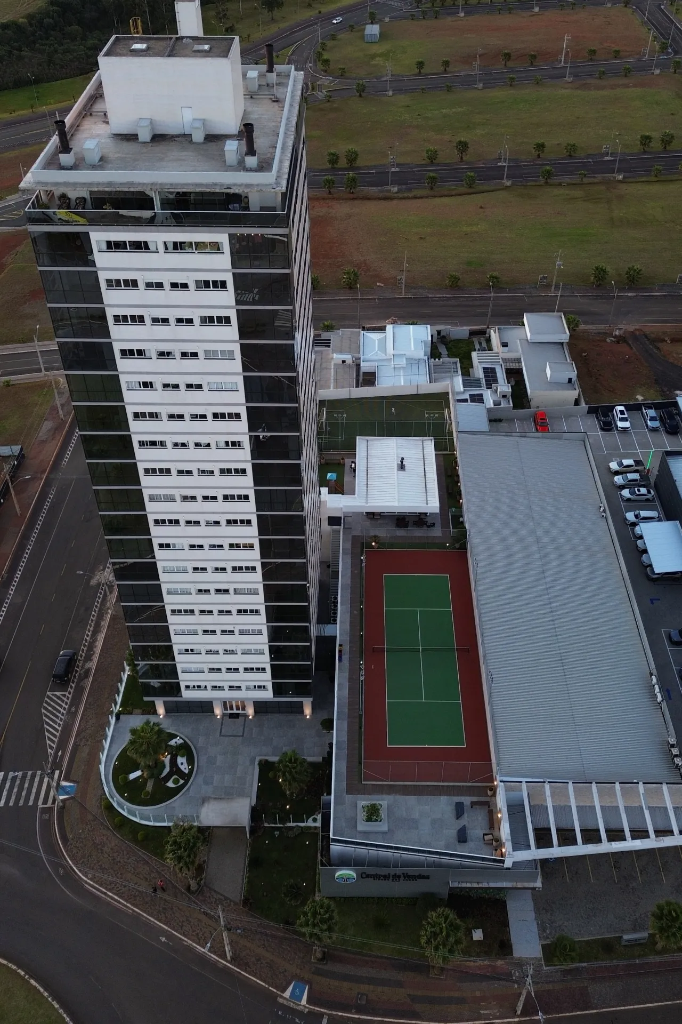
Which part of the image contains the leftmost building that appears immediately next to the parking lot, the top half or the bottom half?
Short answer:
top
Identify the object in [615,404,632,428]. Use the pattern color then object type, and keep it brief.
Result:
white car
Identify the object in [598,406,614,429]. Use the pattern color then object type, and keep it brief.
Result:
black car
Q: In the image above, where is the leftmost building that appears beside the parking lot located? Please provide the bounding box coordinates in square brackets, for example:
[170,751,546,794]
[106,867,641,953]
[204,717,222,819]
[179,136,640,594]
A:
[19,0,321,715]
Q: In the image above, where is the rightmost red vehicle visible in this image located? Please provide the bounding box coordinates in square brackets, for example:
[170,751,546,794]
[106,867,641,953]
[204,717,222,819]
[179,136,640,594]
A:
[535,407,550,431]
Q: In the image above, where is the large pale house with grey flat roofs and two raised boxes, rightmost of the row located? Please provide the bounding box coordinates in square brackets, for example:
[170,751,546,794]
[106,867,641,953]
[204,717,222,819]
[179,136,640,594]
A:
[494,313,577,407]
